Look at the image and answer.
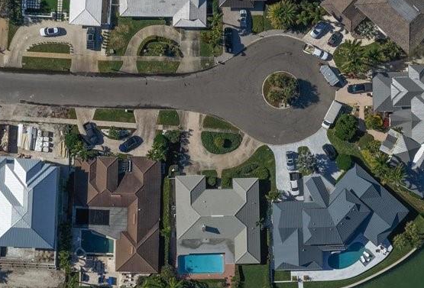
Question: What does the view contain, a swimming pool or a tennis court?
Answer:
swimming pool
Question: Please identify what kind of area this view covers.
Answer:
residential area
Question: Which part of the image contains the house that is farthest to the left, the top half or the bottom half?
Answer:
bottom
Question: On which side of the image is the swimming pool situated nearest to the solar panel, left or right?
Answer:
left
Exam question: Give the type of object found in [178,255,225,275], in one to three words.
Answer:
swimming pool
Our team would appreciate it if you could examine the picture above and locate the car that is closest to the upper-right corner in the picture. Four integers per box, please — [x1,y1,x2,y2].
[328,29,343,47]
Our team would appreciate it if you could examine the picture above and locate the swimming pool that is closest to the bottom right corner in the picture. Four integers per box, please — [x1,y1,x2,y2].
[327,241,370,270]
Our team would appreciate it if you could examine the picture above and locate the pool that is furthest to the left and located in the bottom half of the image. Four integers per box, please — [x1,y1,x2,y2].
[80,228,115,255]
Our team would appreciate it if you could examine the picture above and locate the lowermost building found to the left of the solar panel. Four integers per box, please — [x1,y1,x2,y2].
[0,155,62,249]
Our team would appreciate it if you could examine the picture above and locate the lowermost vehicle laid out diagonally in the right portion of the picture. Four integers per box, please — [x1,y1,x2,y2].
[321,142,337,161]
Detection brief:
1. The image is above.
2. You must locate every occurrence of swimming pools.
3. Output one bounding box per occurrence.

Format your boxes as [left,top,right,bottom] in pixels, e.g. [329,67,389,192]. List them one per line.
[178,255,225,275]
[80,228,115,255]
[327,241,370,270]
